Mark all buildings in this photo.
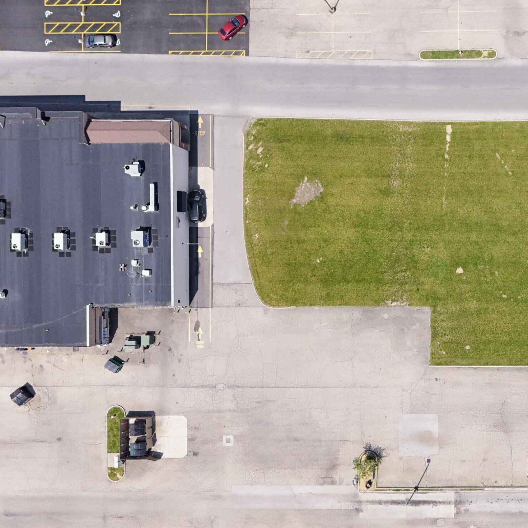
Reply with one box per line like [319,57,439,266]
[0,107,195,348]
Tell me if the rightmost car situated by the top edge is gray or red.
red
